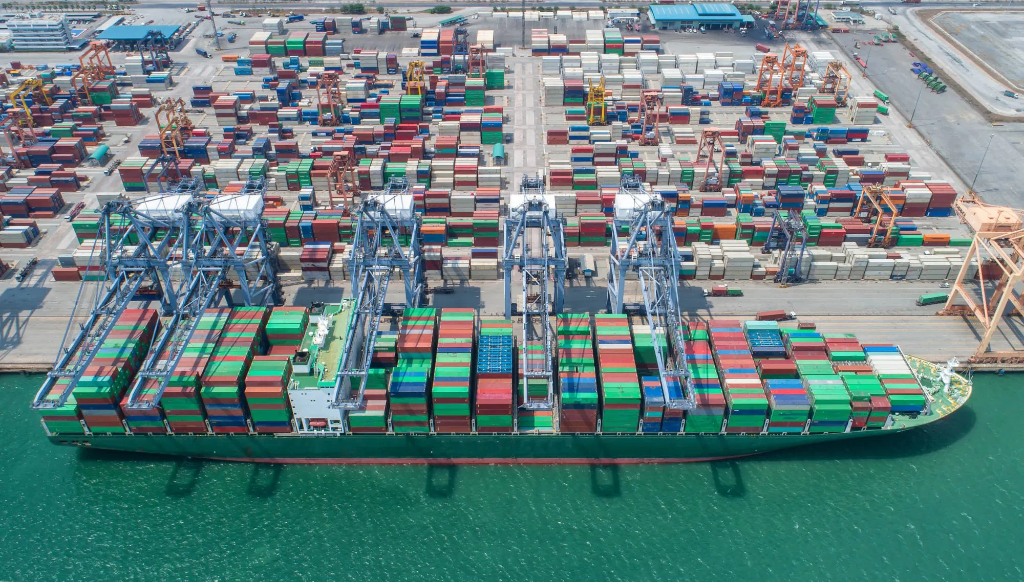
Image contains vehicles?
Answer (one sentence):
Yes, looking at the shot, I can spot a vehicle.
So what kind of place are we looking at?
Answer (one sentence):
The area seen from above is a port.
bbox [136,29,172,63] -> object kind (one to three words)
crane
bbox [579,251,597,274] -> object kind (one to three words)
shed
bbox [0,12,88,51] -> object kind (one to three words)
building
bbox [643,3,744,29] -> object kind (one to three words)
building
